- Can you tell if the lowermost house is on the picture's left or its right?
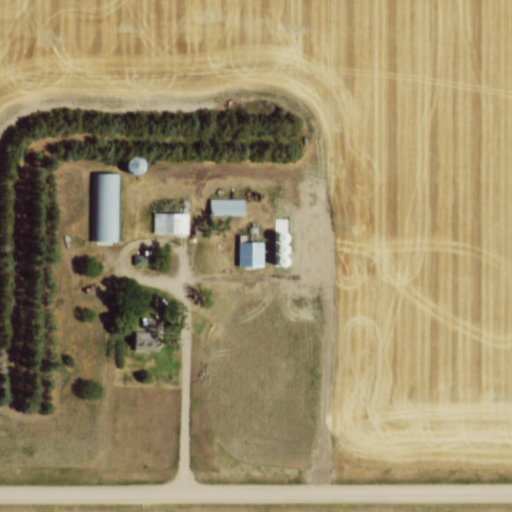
left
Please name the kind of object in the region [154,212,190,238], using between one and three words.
shed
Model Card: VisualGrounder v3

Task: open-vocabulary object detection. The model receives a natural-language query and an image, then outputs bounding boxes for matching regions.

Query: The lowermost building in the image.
[136,330,162,354]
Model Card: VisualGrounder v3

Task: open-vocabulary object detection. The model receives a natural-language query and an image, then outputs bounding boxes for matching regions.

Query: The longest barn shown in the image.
[94,174,120,244]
